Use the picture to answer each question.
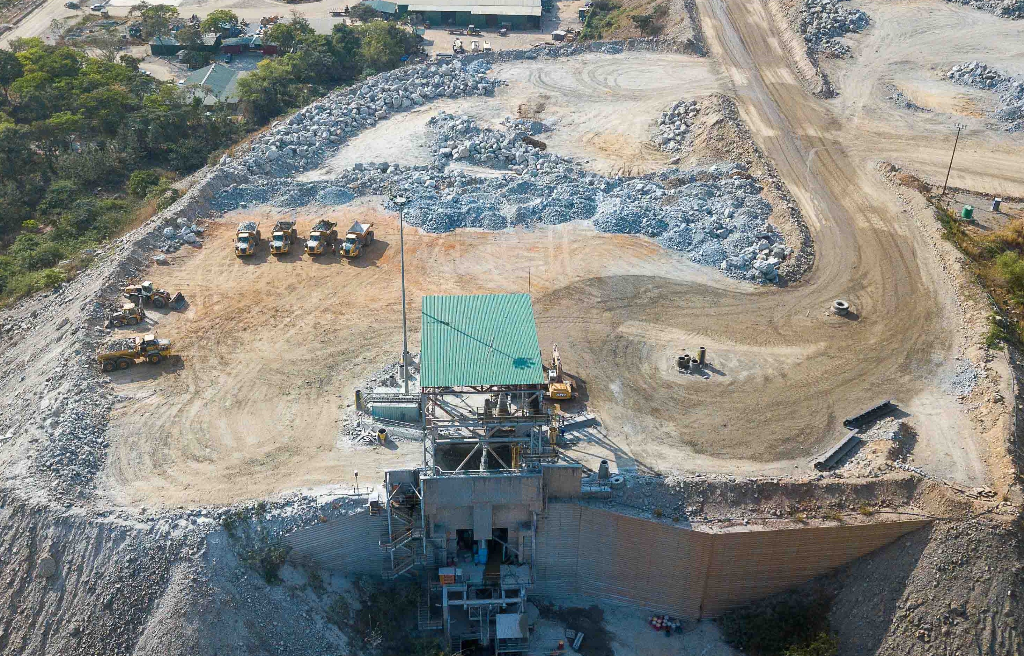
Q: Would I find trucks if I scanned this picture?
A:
Yes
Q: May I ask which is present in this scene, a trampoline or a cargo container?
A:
cargo container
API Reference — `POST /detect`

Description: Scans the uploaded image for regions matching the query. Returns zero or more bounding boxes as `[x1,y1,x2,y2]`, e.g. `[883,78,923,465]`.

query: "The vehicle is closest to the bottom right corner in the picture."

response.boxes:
[548,336,574,399]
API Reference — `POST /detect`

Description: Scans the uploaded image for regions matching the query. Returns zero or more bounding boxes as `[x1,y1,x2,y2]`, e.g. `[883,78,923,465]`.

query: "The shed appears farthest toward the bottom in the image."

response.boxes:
[495,611,526,656]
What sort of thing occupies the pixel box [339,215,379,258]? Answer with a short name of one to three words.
truck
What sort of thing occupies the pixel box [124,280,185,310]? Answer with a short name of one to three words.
work vehicle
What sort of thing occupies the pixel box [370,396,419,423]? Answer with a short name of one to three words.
shipping container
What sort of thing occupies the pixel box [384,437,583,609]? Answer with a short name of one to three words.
building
